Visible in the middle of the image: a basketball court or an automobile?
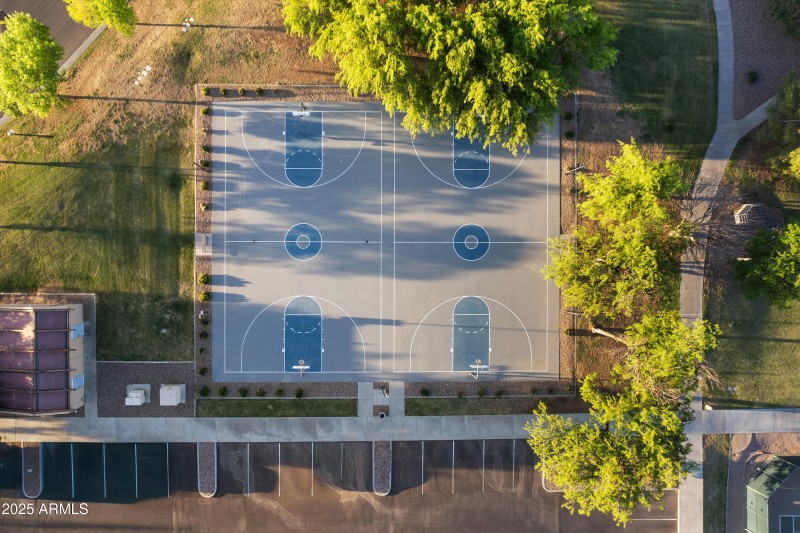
basketball court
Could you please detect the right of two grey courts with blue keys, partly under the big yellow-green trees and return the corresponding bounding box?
[388,102,559,381]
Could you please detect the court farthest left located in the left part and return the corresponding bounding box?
[211,102,388,381]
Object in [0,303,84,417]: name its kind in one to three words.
building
